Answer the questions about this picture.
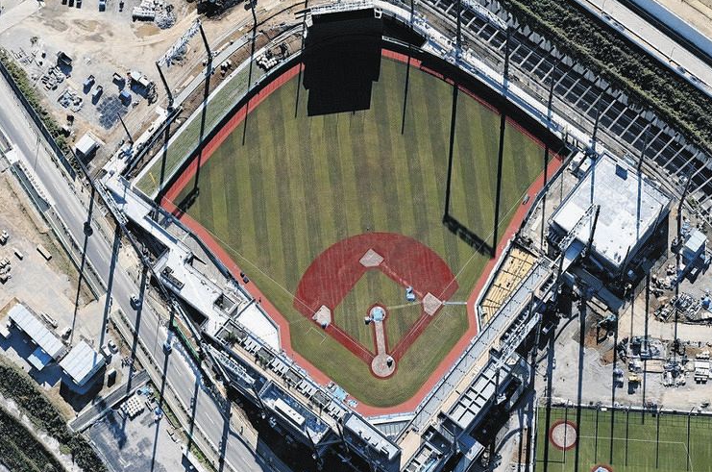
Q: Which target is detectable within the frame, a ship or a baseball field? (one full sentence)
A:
I can see a baseball field in this picture.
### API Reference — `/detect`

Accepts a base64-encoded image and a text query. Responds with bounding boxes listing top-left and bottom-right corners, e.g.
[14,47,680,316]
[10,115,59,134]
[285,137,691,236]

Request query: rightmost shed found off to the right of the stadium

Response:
[684,228,707,255]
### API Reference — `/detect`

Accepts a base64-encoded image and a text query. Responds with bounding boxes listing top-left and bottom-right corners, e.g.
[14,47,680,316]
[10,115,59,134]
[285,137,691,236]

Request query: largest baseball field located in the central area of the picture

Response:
[160,38,564,416]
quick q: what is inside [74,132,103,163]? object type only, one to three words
shed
